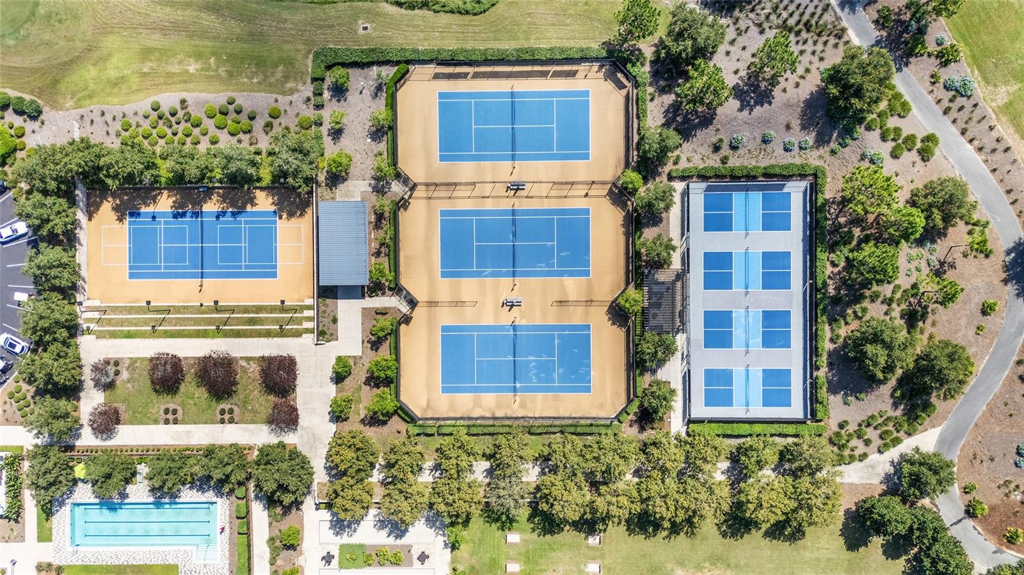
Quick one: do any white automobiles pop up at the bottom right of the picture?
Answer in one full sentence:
No, there's no white automobile to be seen at the bottom right of the picture.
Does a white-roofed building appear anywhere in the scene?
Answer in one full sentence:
No, there's no white-roofed building here.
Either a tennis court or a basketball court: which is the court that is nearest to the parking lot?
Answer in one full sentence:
What you see as the court that is nearest to the parking lot is a tennis court.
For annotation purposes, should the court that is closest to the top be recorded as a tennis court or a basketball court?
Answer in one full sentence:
It looks like the court that is closest to the top is a tennis court.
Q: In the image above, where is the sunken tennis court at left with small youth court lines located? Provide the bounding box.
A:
[86,189,310,302]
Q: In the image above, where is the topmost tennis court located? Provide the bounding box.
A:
[397,65,631,184]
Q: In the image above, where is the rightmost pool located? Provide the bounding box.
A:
[66,499,223,568]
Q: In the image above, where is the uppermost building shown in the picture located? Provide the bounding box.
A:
[317,200,370,286]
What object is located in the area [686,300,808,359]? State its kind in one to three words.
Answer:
sports court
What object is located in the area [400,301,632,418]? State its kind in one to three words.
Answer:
tennis court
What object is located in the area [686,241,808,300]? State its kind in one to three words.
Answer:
sports court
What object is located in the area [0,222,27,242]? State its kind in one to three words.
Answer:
car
